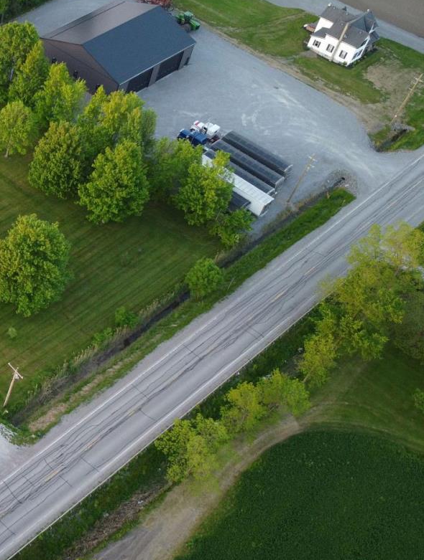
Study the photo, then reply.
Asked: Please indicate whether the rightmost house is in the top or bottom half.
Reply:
top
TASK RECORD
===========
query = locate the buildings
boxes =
[39,1,199,104]
[293,1,393,66]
